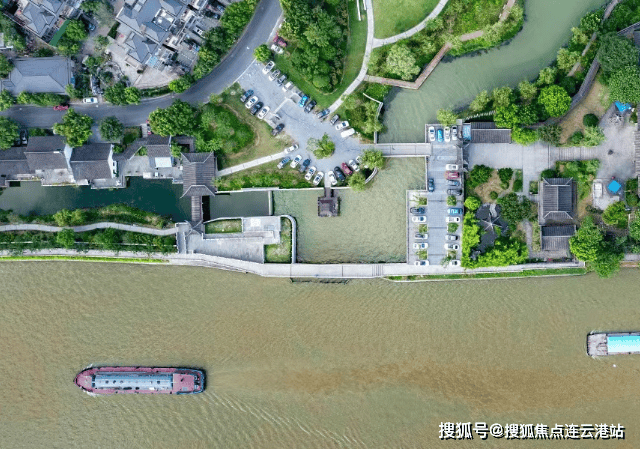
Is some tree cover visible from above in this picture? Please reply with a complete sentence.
Yes, tree cover shows up in the scene.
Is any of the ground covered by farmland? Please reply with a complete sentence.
No, no farmland is visible.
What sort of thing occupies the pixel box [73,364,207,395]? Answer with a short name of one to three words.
ship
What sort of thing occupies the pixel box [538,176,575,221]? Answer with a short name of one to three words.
building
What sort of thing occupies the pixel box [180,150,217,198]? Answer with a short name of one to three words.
building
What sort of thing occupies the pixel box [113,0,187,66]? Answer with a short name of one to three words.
house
